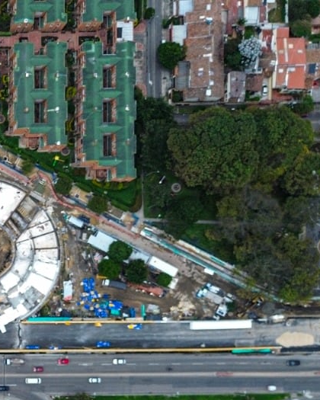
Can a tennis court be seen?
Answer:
No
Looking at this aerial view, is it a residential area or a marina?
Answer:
residential area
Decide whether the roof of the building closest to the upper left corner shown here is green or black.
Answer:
green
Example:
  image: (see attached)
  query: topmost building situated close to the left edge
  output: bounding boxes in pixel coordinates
[8,0,68,36]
